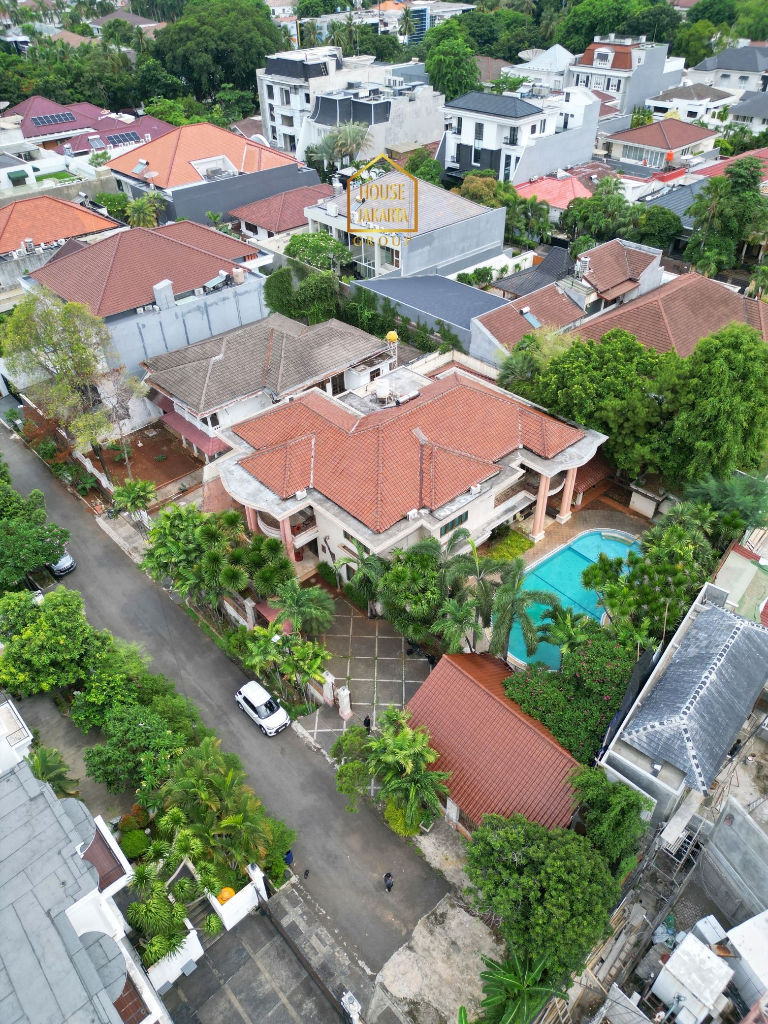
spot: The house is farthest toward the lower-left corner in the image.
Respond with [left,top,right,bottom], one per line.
[0,762,172,1024]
